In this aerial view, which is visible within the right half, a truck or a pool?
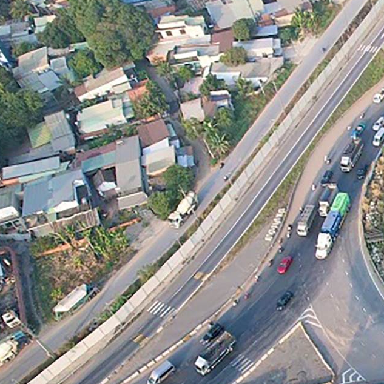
truck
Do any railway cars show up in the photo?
No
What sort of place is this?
residential area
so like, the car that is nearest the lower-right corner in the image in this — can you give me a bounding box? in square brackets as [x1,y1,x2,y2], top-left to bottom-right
[276,293,295,312]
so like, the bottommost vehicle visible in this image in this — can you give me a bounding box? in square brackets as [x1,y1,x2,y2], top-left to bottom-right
[146,360,177,384]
